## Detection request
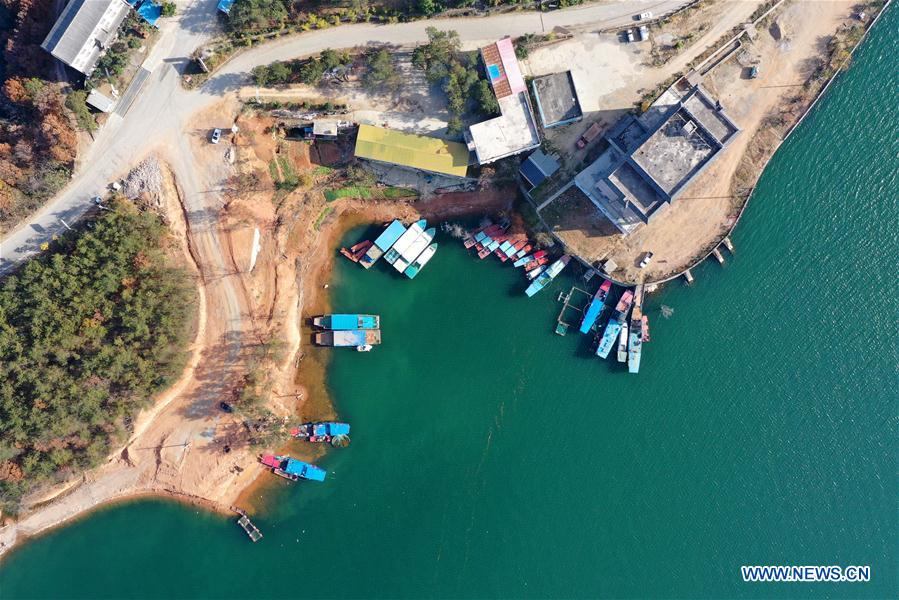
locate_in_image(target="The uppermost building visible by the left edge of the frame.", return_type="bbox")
[39,0,140,80]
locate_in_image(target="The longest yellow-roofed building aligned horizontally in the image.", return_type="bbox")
[355,124,471,177]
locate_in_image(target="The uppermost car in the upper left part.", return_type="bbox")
[209,127,221,142]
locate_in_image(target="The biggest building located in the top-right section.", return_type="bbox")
[573,76,743,237]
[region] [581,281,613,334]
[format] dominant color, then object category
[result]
blue boat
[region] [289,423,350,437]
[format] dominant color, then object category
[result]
blue boat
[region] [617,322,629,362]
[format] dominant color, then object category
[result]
white boat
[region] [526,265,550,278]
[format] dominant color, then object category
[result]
white boat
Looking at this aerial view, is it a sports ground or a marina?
marina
